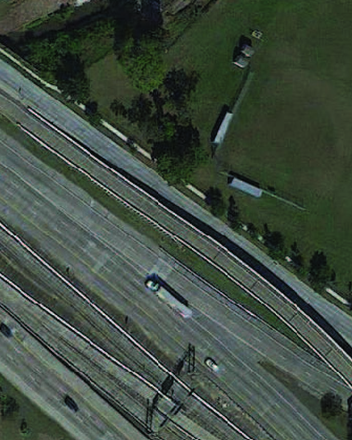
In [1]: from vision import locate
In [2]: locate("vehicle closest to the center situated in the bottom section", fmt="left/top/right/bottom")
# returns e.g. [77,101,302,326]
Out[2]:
[145,279,193,318]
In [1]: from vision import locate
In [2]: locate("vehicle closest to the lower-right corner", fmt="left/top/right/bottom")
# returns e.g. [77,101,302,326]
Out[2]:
[204,357,221,372]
